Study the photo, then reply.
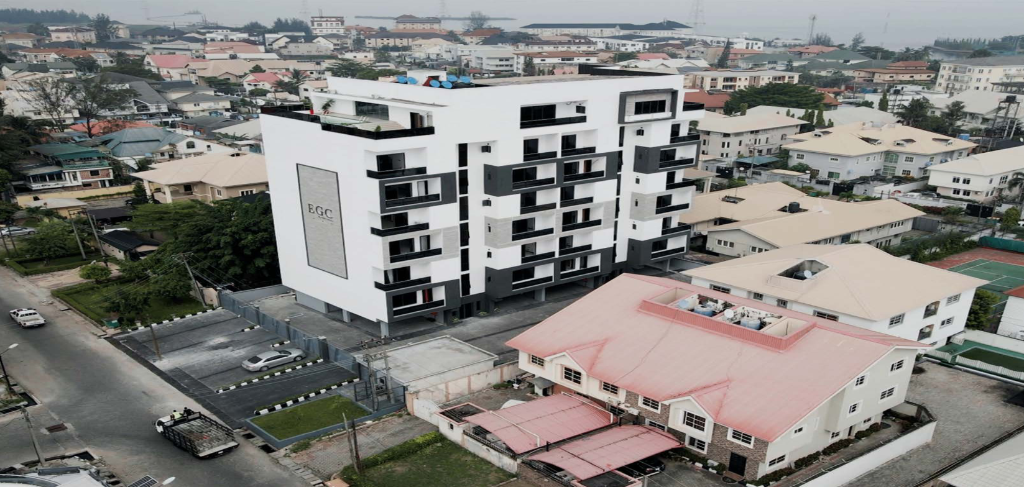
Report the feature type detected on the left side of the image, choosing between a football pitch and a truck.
truck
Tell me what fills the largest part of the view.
buildings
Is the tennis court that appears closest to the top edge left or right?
right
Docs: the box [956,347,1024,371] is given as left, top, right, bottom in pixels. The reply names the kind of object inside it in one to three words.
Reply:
sports court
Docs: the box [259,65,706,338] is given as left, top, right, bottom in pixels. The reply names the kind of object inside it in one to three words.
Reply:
building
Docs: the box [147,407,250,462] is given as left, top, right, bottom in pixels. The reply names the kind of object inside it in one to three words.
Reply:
truck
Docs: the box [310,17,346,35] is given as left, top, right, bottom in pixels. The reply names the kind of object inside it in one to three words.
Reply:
house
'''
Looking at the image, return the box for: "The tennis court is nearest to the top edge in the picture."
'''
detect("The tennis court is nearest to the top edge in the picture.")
[954,259,1024,313]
